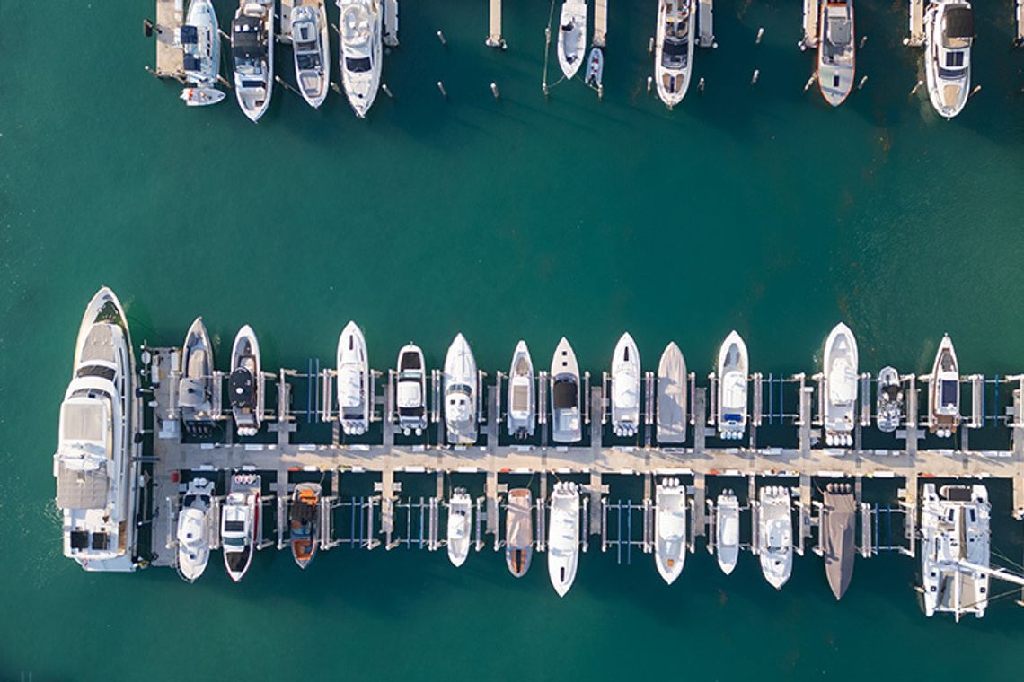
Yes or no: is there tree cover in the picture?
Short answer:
No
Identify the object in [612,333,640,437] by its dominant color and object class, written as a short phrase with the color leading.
white boat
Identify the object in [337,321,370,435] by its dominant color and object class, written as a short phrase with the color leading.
white boat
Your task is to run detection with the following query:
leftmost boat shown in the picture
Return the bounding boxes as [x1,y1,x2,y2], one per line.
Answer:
[54,285,148,571]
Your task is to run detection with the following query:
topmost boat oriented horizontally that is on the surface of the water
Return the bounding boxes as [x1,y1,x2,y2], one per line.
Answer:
[182,88,227,106]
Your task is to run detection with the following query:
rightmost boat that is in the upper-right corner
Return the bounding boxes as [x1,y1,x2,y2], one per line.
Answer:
[923,0,974,120]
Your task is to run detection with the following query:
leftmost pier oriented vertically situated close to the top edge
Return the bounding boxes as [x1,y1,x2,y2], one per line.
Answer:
[155,0,189,77]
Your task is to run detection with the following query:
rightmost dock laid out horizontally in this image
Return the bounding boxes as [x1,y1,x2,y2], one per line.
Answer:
[151,346,1024,567]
